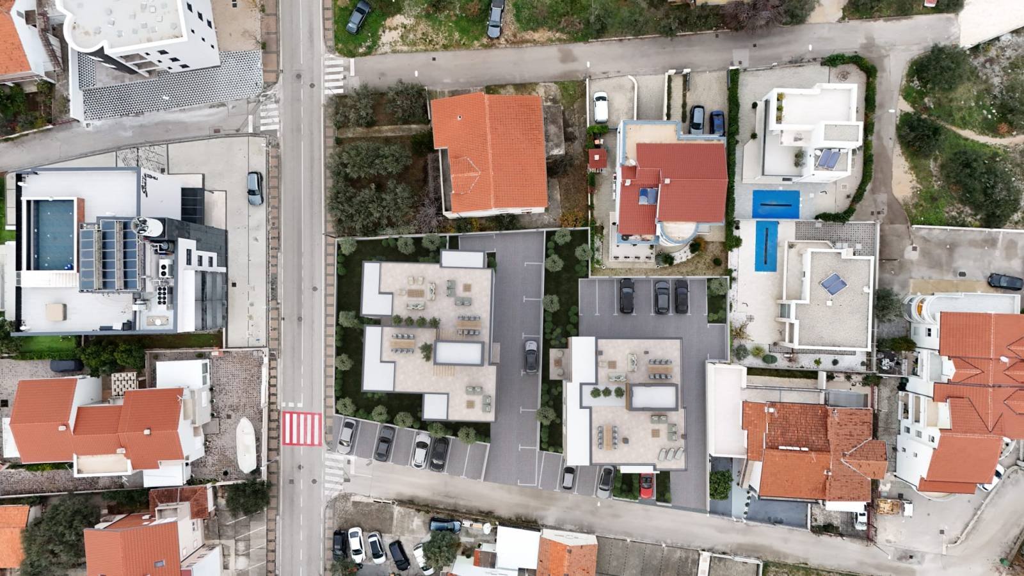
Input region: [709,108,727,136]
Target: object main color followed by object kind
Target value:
blue car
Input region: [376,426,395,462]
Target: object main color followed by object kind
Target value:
gray car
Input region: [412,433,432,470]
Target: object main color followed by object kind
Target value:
white car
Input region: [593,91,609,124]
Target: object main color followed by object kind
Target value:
white vehicle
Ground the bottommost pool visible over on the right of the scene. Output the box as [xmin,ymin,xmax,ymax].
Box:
[752,218,780,274]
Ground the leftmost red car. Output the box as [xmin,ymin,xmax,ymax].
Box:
[639,473,655,500]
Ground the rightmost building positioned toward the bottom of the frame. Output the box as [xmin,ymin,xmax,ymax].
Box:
[886,290,1024,494]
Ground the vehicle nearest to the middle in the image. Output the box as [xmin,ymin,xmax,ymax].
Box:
[523,339,539,374]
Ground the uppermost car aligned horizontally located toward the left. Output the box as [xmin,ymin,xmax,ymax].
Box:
[49,358,85,375]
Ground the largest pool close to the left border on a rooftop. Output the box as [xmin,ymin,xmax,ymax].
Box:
[33,201,74,269]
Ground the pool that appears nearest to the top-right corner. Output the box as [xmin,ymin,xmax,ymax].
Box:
[749,187,802,220]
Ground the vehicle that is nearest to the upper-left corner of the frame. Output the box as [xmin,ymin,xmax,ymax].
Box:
[245,170,264,206]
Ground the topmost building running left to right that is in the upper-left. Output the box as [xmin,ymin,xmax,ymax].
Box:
[57,0,220,77]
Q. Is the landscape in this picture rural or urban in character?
urban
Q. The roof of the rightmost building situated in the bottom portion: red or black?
red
